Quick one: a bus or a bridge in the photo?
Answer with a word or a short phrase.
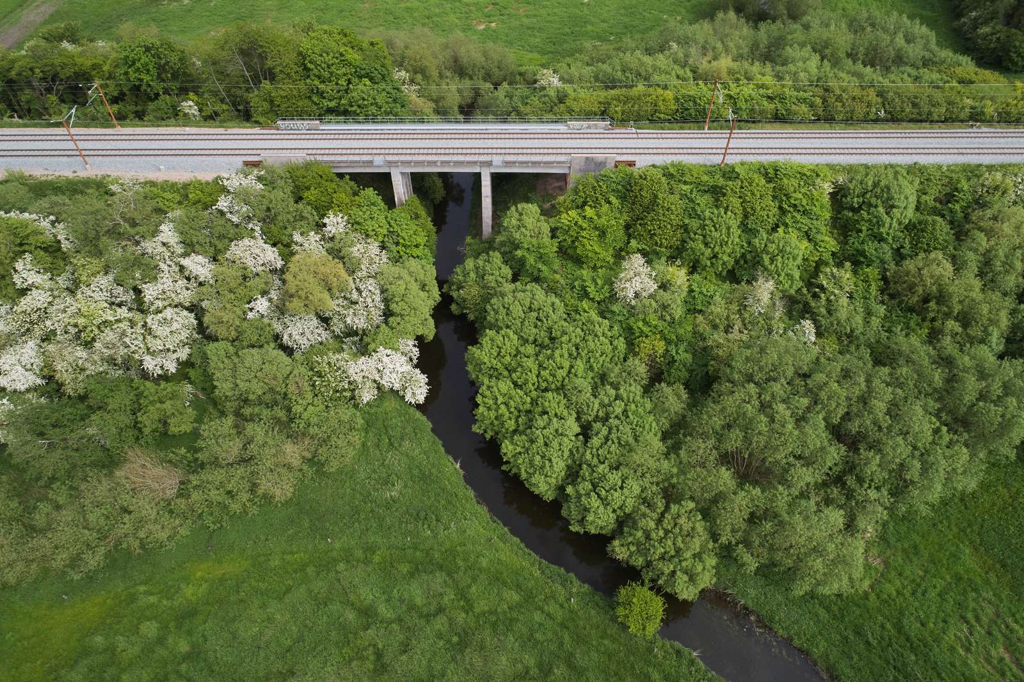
bridge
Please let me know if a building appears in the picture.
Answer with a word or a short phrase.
No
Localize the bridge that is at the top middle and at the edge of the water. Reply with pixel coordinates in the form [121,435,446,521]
[253,115,619,235]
